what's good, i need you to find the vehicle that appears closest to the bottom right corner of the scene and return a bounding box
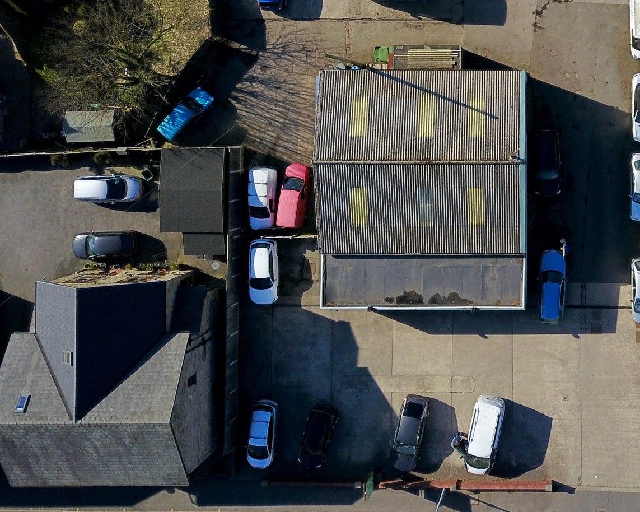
[452,393,505,474]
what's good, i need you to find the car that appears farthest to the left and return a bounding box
[73,229,138,264]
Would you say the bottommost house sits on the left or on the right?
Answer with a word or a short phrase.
left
